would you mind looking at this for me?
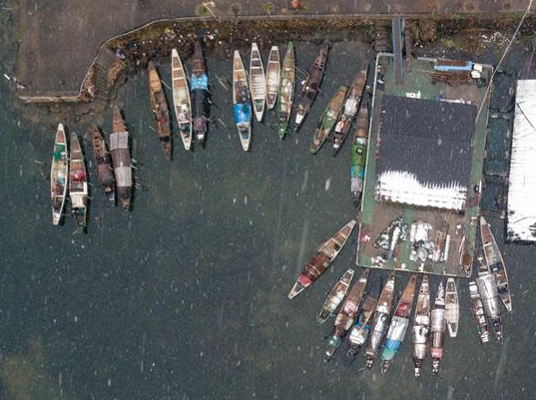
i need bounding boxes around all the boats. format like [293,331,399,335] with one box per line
[325,268,370,364]
[170,46,193,149]
[477,250,505,353]
[310,84,347,154]
[249,40,266,121]
[317,268,353,325]
[89,123,117,207]
[412,273,431,383]
[446,278,460,339]
[49,121,68,225]
[231,48,258,151]
[382,273,417,379]
[190,40,226,152]
[293,40,329,130]
[110,104,152,216]
[277,40,308,139]
[145,60,173,159]
[352,98,370,213]
[347,273,384,364]
[68,131,88,232]
[481,216,513,313]
[288,219,357,300]
[266,44,281,108]
[430,282,447,379]
[332,59,369,156]
[368,271,396,371]
[469,281,490,344]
